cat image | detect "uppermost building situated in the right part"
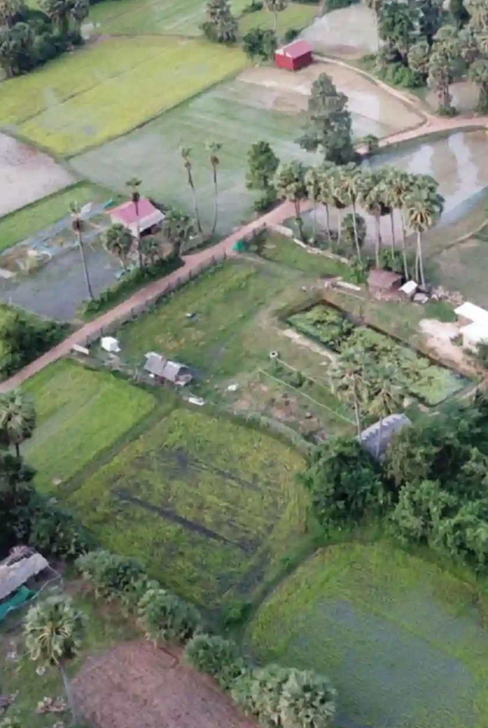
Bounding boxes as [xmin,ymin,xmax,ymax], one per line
[273,38,313,71]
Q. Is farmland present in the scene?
Yes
